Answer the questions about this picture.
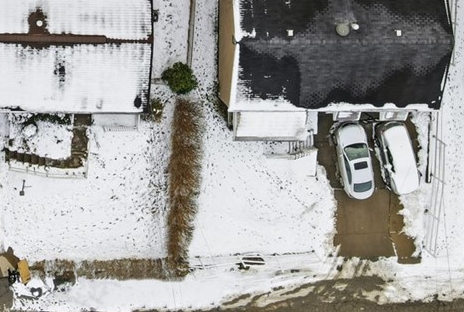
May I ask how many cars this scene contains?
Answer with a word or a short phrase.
two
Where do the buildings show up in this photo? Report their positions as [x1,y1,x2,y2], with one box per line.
[220,0,458,161]
[0,0,156,131]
